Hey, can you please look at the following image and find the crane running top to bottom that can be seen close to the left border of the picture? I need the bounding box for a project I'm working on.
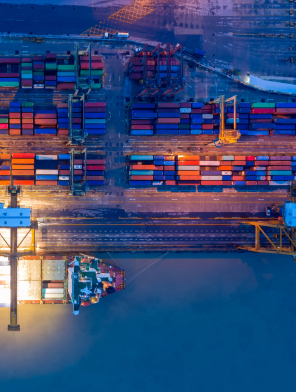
[0,185,40,333]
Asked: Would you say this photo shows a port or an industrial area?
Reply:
port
